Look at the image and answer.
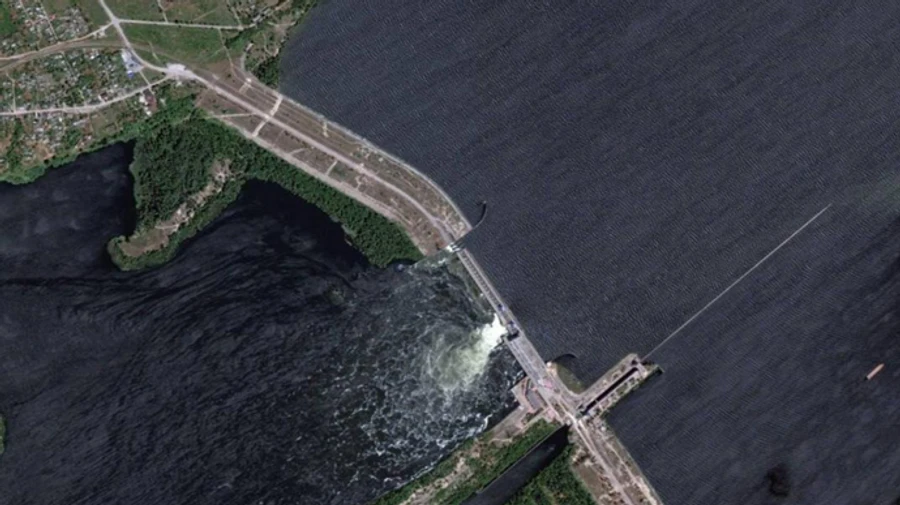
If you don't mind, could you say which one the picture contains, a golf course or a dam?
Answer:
dam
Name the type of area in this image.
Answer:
port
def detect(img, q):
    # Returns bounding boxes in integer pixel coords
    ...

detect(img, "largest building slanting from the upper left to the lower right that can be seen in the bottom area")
[507,331,551,385]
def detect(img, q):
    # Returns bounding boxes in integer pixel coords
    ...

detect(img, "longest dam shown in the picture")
[192,53,468,256]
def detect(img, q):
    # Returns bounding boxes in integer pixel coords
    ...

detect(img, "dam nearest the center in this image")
[458,249,519,334]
